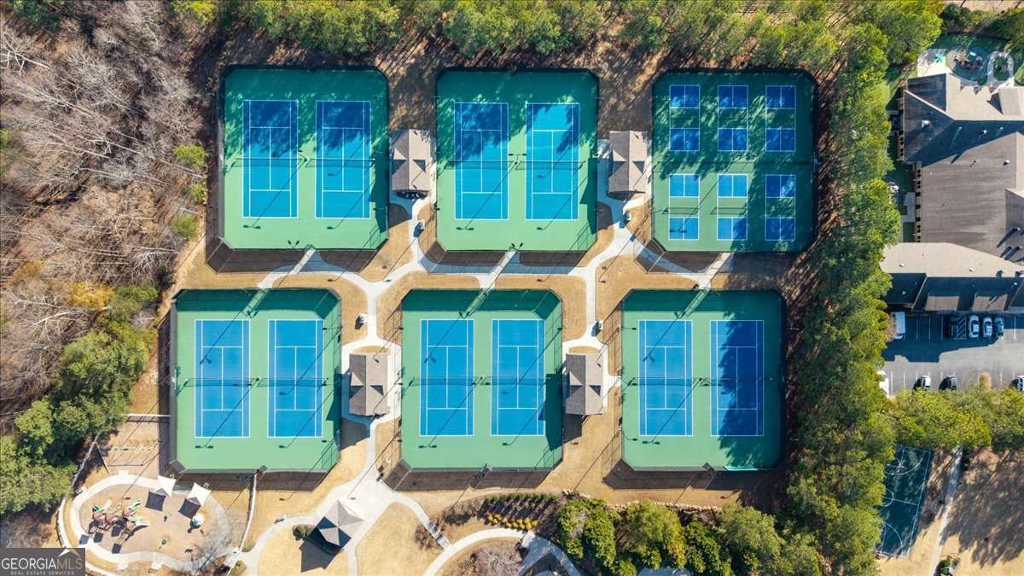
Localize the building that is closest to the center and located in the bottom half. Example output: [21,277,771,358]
[565,354,604,417]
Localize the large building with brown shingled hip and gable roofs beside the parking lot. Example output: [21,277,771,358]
[874,73,1024,312]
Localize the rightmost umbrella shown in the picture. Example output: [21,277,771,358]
[936,48,951,65]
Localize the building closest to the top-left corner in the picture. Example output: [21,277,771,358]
[392,127,430,190]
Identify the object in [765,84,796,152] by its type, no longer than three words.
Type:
sports court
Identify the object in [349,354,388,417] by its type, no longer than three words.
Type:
building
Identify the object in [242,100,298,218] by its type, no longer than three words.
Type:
tennis court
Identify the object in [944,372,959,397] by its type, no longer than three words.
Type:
car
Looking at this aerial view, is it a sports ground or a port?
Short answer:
sports ground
